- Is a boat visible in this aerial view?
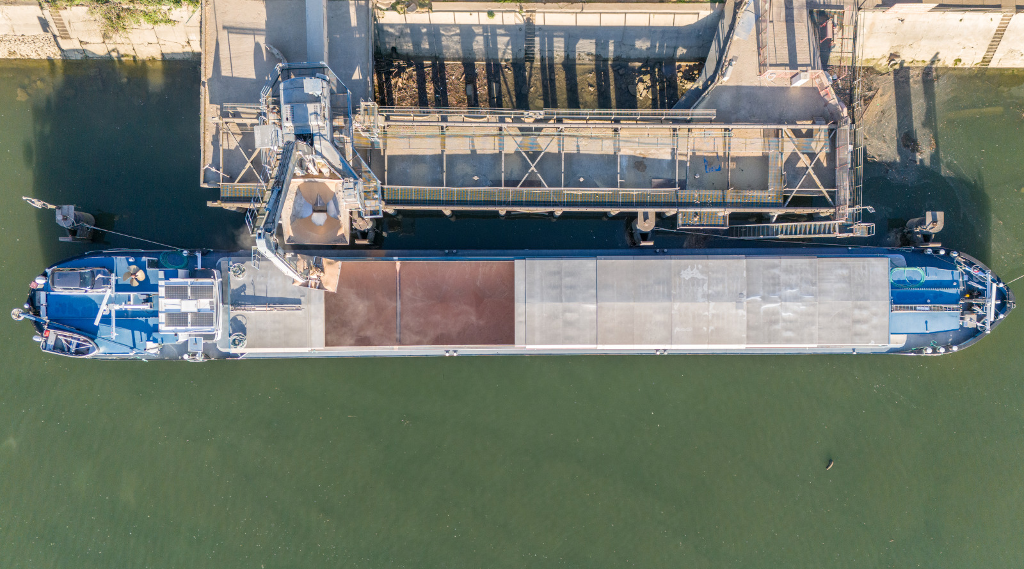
Yes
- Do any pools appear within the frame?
No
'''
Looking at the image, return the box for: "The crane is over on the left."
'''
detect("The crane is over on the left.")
[241,58,377,293]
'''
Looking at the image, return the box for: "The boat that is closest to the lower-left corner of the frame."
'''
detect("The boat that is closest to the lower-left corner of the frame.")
[31,329,100,358]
